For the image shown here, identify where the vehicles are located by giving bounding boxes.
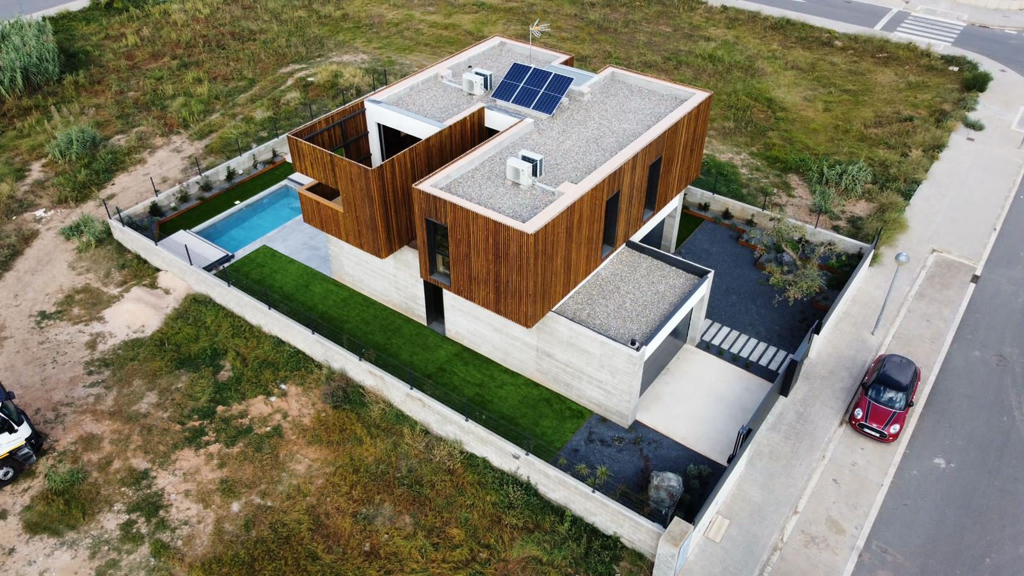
[0,401,50,489]
[846,349,931,447]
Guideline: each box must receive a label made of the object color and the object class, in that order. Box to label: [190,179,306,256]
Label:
blue swimming pool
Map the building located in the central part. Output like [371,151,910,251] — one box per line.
[287,35,714,428]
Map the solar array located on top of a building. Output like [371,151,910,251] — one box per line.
[492,62,572,121]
